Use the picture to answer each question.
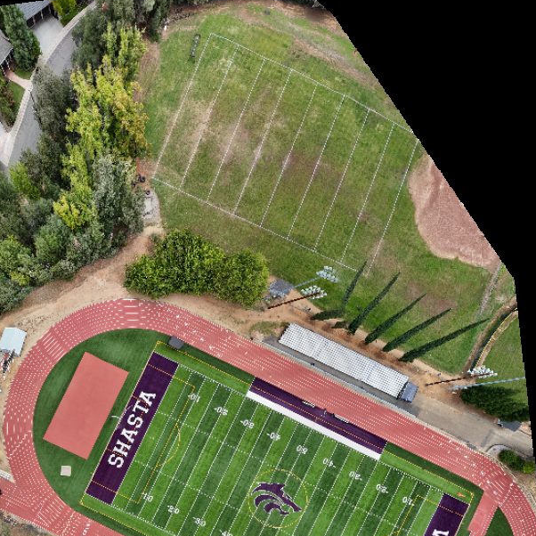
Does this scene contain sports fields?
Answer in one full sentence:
Yes, the frame does contain a sports field.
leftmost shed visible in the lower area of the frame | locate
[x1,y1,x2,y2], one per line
[0,328,27,357]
